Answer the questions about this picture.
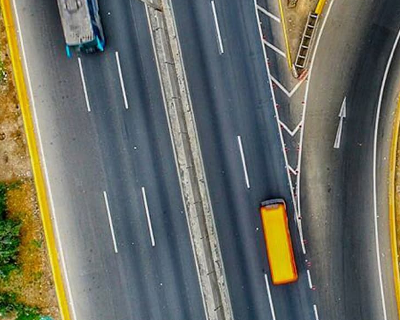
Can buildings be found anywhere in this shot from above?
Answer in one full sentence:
No, there isn't any building down there.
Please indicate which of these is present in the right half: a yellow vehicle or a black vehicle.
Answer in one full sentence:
Visible in the right half is a yellow vehicle.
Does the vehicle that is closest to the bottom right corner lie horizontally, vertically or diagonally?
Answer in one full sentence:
From this overhead view, the vehicle that is closest to the bottom right corner appears to run vertically.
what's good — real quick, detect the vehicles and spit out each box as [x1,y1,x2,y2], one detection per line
[260,196,297,283]
[57,0,107,51]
